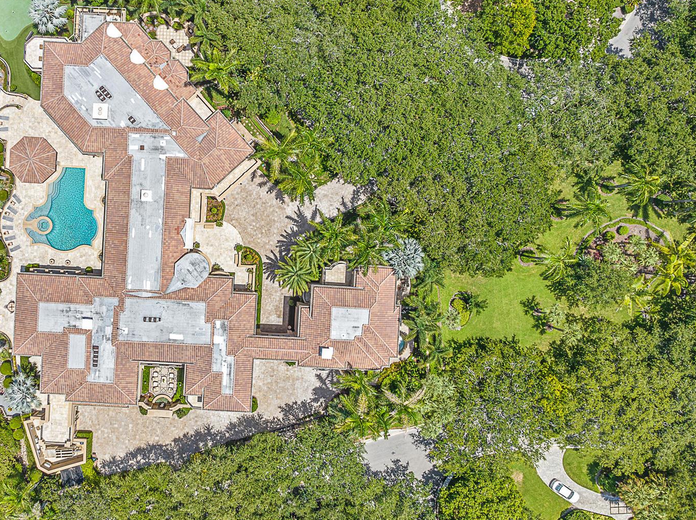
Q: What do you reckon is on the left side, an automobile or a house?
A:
house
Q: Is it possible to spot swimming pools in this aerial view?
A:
Yes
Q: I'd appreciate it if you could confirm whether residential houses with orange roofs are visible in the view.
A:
No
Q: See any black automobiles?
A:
No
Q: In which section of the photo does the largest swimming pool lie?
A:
left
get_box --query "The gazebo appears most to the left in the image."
[8,136,64,184]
